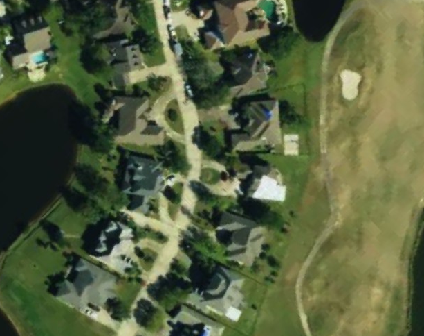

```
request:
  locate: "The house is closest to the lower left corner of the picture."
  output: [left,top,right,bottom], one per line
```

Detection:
[54,255,123,314]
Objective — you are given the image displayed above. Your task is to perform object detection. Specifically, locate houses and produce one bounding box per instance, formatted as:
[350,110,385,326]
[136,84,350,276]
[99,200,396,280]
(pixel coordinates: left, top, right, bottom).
[170,302,228,336]
[111,94,164,146]
[228,98,281,152]
[8,11,55,72]
[199,0,271,52]
[189,260,251,316]
[216,207,269,268]
[54,255,123,314]
[242,160,288,202]
[120,154,168,214]
[224,44,274,99]
[104,40,143,92]
[92,0,141,40]
[87,212,142,267]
